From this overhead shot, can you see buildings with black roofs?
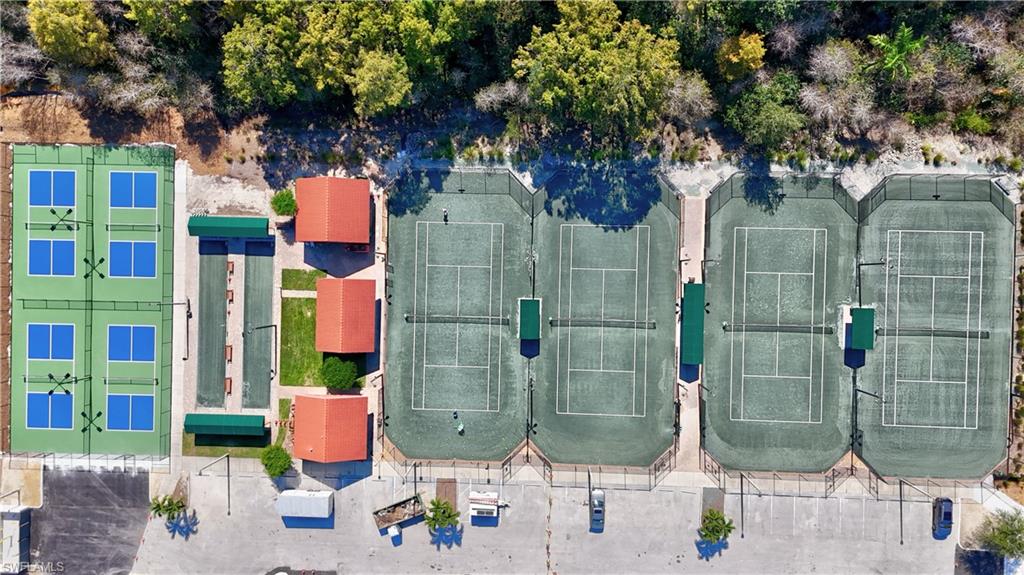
No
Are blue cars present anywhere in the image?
Yes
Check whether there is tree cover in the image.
Yes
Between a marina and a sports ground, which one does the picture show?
sports ground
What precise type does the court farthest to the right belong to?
tennis court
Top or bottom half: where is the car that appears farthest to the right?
bottom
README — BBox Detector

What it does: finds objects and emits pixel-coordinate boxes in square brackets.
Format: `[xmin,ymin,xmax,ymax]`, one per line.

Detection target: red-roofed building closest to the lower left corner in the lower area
[295,394,369,463]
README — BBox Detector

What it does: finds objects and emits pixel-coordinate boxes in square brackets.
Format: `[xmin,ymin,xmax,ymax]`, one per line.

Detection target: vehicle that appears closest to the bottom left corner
[1,510,30,575]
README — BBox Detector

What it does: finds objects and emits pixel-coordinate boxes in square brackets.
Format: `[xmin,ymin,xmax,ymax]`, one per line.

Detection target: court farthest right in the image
[852,176,1016,480]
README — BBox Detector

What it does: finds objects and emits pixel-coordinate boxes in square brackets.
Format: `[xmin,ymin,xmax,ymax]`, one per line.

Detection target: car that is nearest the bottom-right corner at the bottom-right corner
[932,497,955,537]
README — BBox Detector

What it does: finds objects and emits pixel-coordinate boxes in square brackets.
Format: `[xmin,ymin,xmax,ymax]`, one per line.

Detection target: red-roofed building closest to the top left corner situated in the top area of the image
[296,174,372,243]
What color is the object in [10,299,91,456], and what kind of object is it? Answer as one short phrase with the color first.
green sports court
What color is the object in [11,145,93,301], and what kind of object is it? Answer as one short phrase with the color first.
green sports court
